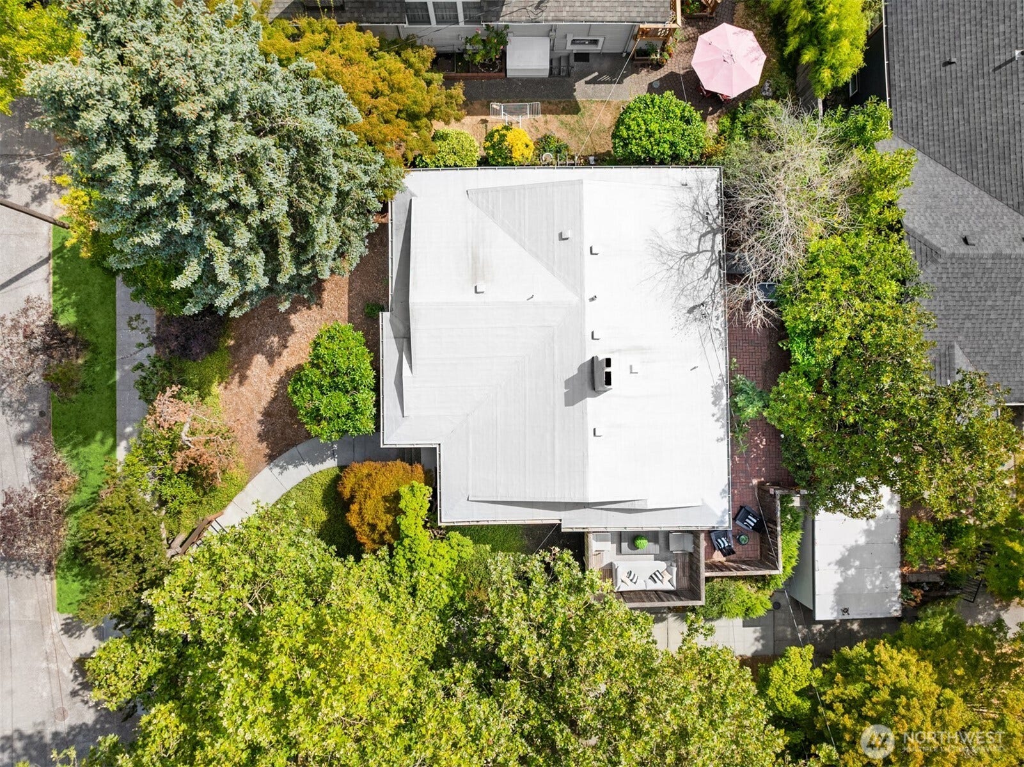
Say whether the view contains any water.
No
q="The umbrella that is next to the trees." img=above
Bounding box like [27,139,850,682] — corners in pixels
[691,23,766,99]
